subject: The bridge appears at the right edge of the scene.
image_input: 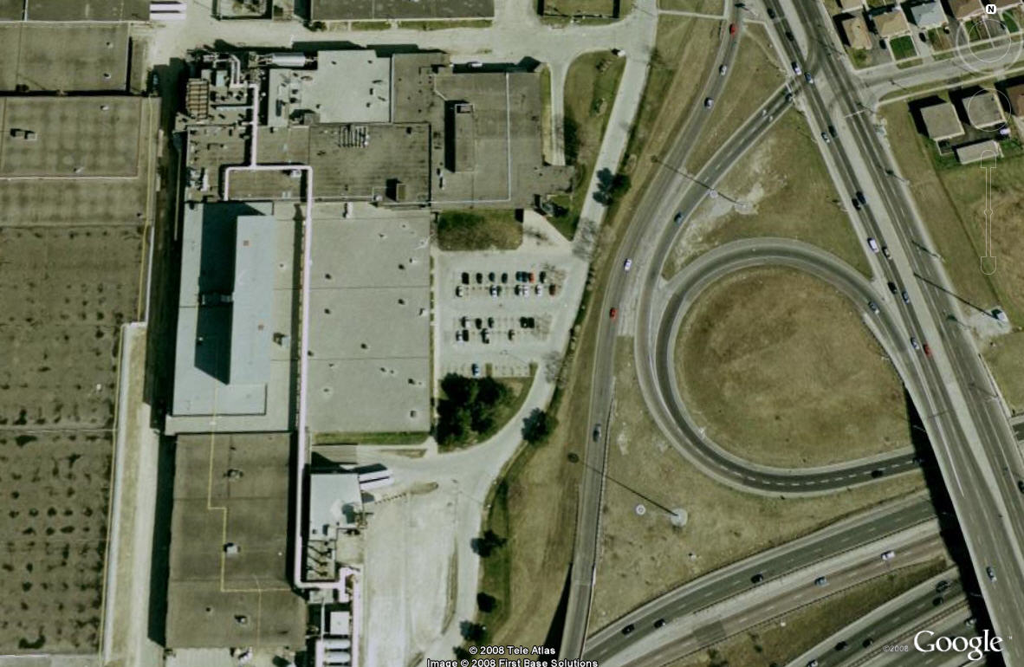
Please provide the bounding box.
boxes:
[905,372,1024,667]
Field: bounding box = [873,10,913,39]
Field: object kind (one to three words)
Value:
house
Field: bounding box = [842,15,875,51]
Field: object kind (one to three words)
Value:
house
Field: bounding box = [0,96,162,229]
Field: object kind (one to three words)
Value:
building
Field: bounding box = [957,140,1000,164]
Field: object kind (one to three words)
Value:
building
